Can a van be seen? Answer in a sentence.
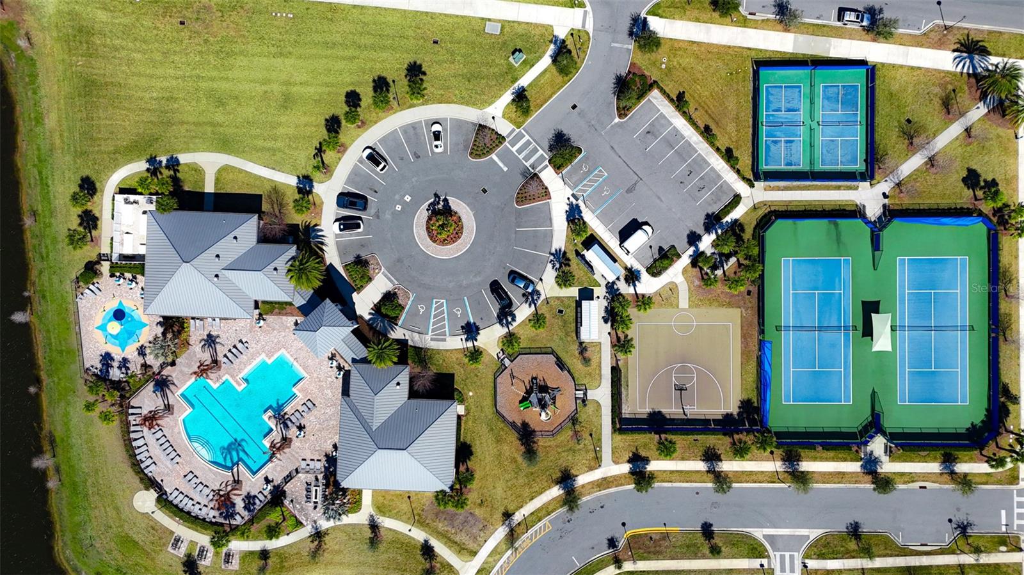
Yes, there's a van here.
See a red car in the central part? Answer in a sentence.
No, no red car is visible in the central part.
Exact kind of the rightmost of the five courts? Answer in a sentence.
The rightmost of the five courts can be classified as a tennis court.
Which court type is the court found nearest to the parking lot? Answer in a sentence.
The court found nearest to the parking lot is a basketball court.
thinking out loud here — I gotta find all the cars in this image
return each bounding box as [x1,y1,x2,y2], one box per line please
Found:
[840,11,871,29]
[335,219,364,233]
[487,280,515,309]
[506,270,536,292]
[336,195,369,211]
[362,146,390,174]
[430,123,445,153]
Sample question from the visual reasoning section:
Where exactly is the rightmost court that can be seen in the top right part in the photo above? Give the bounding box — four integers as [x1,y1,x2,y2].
[811,69,869,178]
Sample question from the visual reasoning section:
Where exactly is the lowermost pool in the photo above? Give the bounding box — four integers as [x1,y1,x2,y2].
[176,348,310,481]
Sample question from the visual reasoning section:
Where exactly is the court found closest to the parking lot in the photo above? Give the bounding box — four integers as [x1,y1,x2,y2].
[628,308,741,414]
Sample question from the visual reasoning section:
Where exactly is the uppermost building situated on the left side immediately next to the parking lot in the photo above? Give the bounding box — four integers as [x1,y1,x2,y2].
[143,210,299,319]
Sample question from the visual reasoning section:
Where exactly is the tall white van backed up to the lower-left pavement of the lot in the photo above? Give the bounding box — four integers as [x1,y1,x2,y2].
[618,226,652,257]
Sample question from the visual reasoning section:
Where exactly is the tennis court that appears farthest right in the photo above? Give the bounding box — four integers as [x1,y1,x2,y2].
[878,219,990,441]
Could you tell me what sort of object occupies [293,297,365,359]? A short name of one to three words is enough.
building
